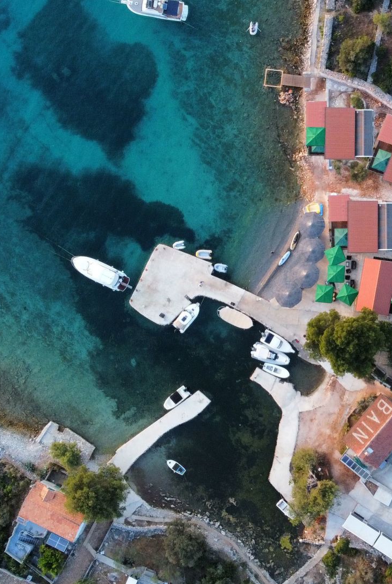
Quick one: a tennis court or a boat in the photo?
boat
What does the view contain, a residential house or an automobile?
residential house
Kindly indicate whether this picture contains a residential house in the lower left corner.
Yes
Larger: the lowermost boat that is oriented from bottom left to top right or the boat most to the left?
the boat most to the left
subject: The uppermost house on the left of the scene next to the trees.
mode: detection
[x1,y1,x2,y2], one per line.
[4,475,89,564]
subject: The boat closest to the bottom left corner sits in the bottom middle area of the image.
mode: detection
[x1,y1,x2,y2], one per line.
[167,460,186,475]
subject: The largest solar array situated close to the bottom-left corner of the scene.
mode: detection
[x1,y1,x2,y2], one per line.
[46,532,69,552]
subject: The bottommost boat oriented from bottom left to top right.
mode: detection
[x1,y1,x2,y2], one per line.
[163,385,191,408]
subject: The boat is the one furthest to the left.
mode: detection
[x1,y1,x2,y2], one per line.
[69,258,132,295]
